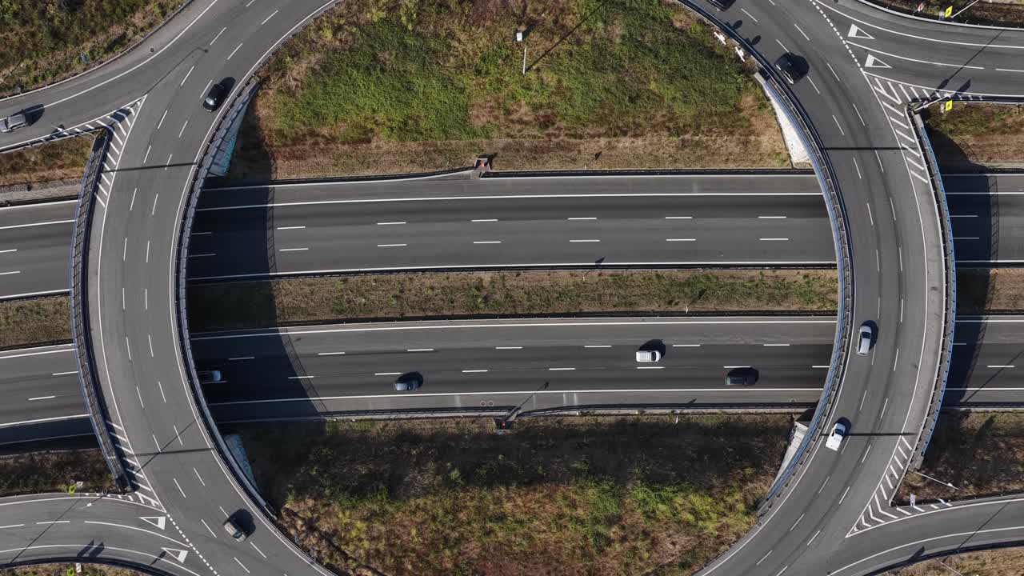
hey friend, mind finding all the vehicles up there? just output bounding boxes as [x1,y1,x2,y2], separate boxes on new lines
[394,380,421,392]
[223,519,247,543]
[634,350,662,362]
[204,83,226,110]
[825,422,845,452]
[855,325,870,356]
[774,58,799,85]
[200,370,223,382]
[711,0,733,10]
[724,374,755,387]
[0,114,29,132]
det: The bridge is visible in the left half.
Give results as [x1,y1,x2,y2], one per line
[73,79,268,510]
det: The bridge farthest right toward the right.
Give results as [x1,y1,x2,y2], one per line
[756,74,951,510]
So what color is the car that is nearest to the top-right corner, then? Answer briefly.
black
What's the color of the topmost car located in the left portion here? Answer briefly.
black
